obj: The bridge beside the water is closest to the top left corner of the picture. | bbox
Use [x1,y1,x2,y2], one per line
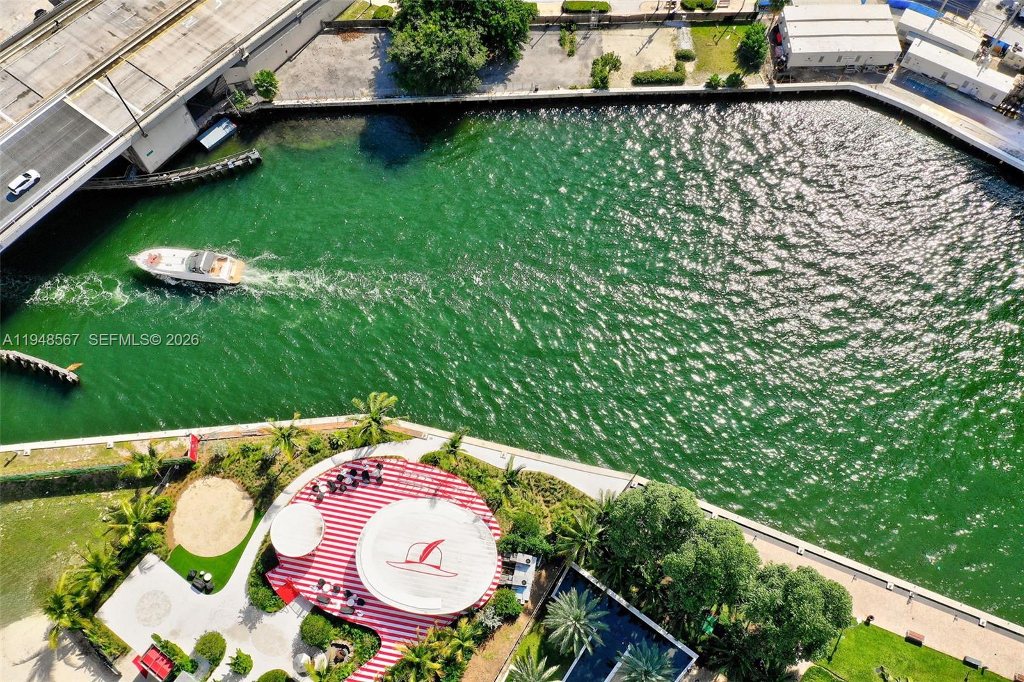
[0,0,356,257]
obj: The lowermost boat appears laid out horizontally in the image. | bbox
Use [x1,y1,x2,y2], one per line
[128,247,248,286]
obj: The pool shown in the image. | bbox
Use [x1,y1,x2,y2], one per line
[552,564,698,682]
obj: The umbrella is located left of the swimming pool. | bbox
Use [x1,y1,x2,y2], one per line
[292,650,316,676]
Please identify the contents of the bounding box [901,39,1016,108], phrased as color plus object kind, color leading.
white trailer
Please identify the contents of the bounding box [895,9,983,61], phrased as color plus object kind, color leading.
white trailer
